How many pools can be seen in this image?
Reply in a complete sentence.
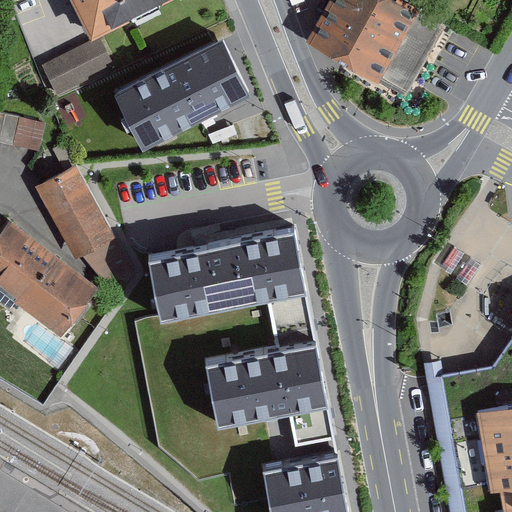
The picture shows just 1 pool.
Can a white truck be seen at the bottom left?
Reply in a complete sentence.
No, I can find no white truck at the bottom left.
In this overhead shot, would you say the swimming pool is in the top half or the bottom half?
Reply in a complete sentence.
The bottom half of the photo is where the swimming pool is.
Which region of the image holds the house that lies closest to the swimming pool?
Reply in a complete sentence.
The house that lies closest to the swimming pool is located in the left region of the scene.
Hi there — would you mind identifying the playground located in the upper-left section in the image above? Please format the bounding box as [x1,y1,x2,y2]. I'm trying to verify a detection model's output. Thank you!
[62,92,86,126]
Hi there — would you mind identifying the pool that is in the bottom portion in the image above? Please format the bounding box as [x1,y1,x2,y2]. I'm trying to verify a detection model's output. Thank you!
[7,306,76,370]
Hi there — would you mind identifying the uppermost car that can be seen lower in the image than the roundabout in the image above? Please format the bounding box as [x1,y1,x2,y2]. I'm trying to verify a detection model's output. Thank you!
[411,388,423,412]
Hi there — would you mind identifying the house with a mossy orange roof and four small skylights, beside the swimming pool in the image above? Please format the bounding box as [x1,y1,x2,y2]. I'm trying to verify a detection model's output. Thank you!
[0,222,96,336]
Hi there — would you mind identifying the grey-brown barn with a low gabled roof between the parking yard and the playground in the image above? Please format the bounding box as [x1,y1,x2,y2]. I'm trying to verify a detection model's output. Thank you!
[42,38,112,93]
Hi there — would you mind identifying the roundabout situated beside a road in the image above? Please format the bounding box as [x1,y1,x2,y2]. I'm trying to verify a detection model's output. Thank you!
[312,136,441,264]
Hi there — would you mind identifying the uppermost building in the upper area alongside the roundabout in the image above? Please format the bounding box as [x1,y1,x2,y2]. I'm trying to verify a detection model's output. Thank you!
[306,0,444,92]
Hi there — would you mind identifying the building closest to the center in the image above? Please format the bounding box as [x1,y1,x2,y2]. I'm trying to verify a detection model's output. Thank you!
[149,228,306,324]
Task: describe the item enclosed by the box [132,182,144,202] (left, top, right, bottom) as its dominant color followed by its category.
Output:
blue vehicle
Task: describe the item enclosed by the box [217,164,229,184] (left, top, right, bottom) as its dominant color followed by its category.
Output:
gray vehicle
